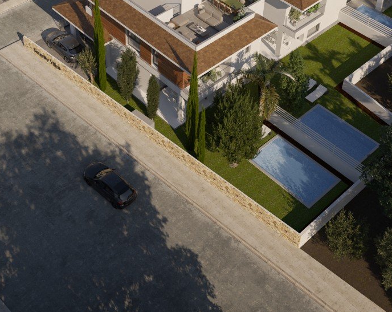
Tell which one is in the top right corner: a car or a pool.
pool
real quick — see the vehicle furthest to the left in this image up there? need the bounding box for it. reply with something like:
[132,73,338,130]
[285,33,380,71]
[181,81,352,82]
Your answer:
[47,32,88,63]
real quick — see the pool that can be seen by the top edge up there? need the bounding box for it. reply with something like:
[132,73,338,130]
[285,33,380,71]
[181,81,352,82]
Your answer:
[364,13,392,39]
